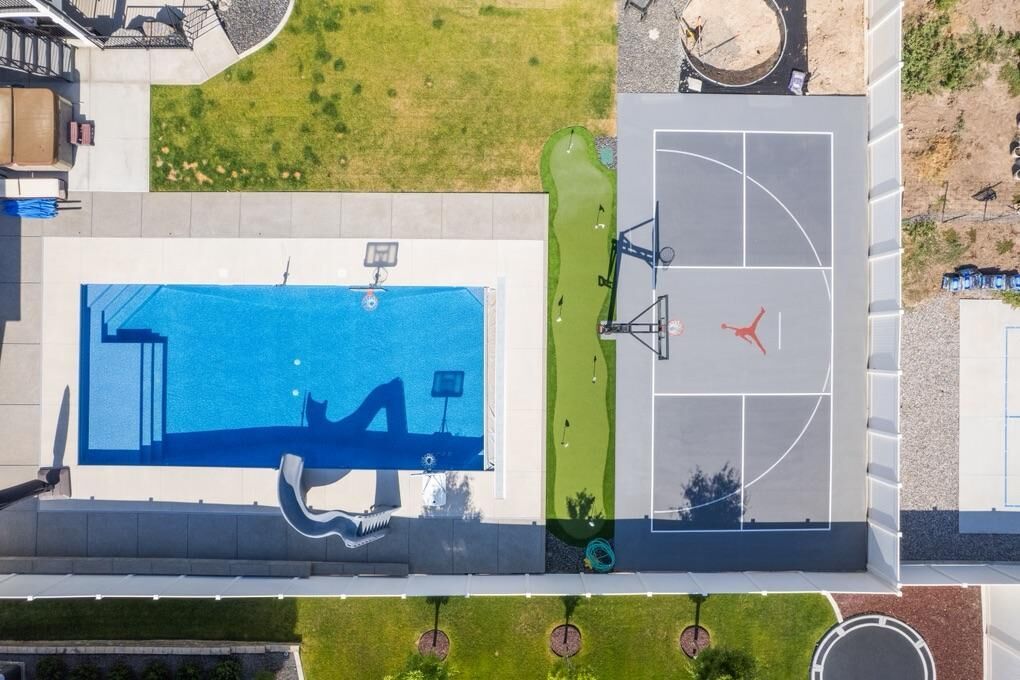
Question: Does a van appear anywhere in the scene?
No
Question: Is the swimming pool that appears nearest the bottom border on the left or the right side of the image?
left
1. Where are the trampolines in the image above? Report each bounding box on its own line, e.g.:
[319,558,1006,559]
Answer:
[809,611,935,680]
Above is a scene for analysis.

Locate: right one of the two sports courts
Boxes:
[960,301,1020,532]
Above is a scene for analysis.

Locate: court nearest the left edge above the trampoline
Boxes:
[616,93,867,573]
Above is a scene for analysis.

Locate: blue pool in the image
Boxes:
[77,268,505,499]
